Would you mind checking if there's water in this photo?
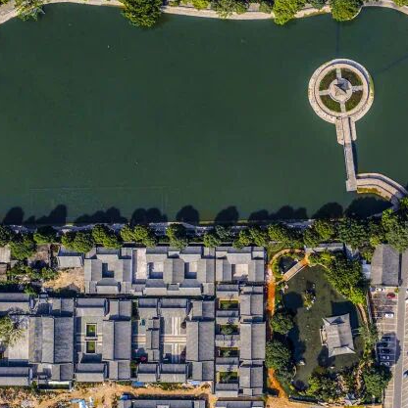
Yes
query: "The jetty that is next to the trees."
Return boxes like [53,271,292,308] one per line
[356,172,406,210]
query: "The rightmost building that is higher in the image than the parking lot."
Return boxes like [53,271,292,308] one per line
[371,245,399,286]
